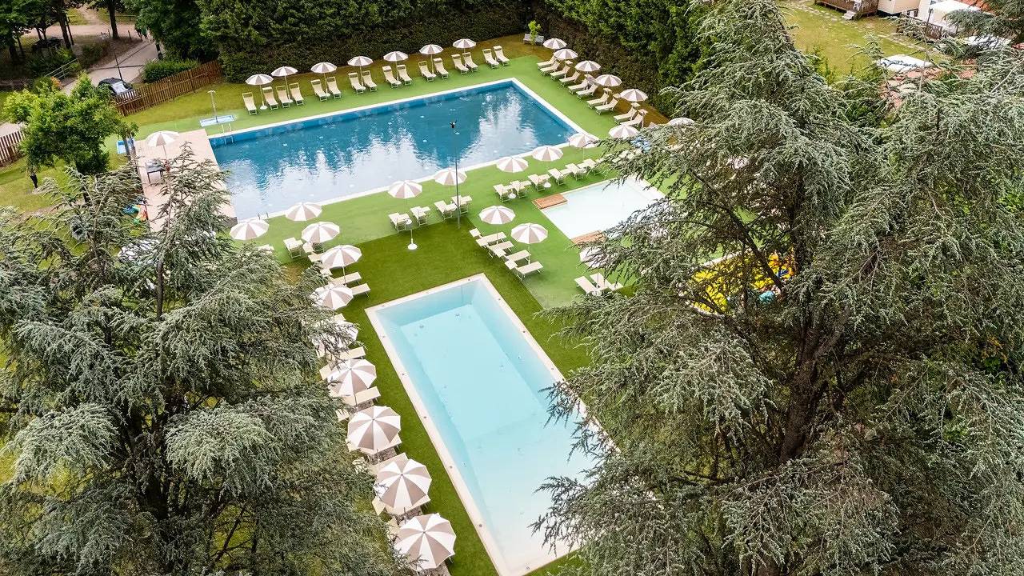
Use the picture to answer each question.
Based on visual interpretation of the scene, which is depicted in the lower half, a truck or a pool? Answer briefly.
pool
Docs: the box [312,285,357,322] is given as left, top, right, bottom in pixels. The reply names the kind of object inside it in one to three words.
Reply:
umbrella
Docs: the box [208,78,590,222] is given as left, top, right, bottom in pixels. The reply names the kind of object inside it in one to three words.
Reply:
swimming pool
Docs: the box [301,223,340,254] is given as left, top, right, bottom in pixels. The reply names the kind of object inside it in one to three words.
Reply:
umbrella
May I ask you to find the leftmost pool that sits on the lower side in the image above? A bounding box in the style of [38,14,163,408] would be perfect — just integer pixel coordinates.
[365,274,649,576]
